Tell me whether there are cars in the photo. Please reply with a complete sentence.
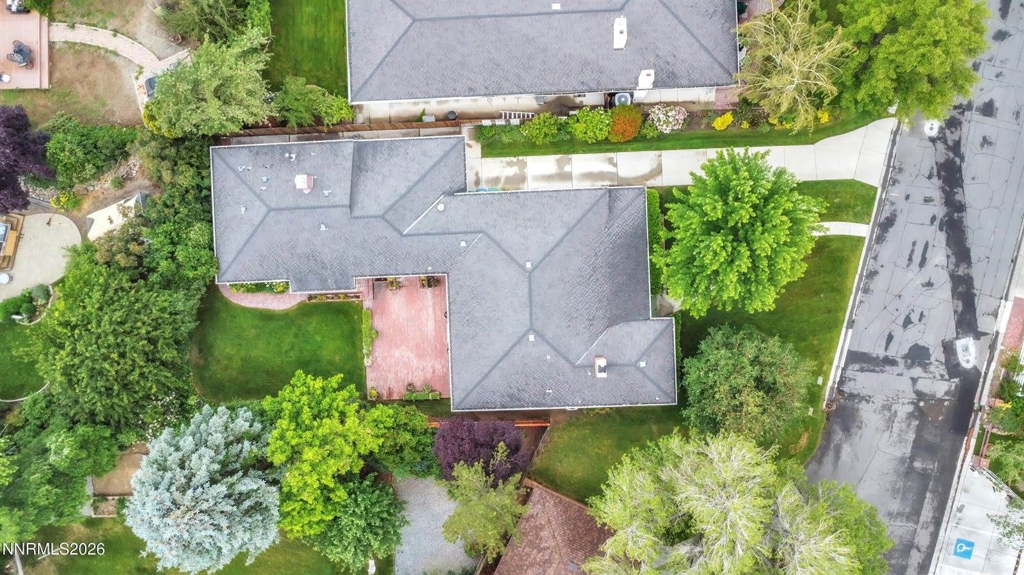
No, the photo shows no car.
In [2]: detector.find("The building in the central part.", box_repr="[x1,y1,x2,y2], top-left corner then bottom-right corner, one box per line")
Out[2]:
[208,133,679,412]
